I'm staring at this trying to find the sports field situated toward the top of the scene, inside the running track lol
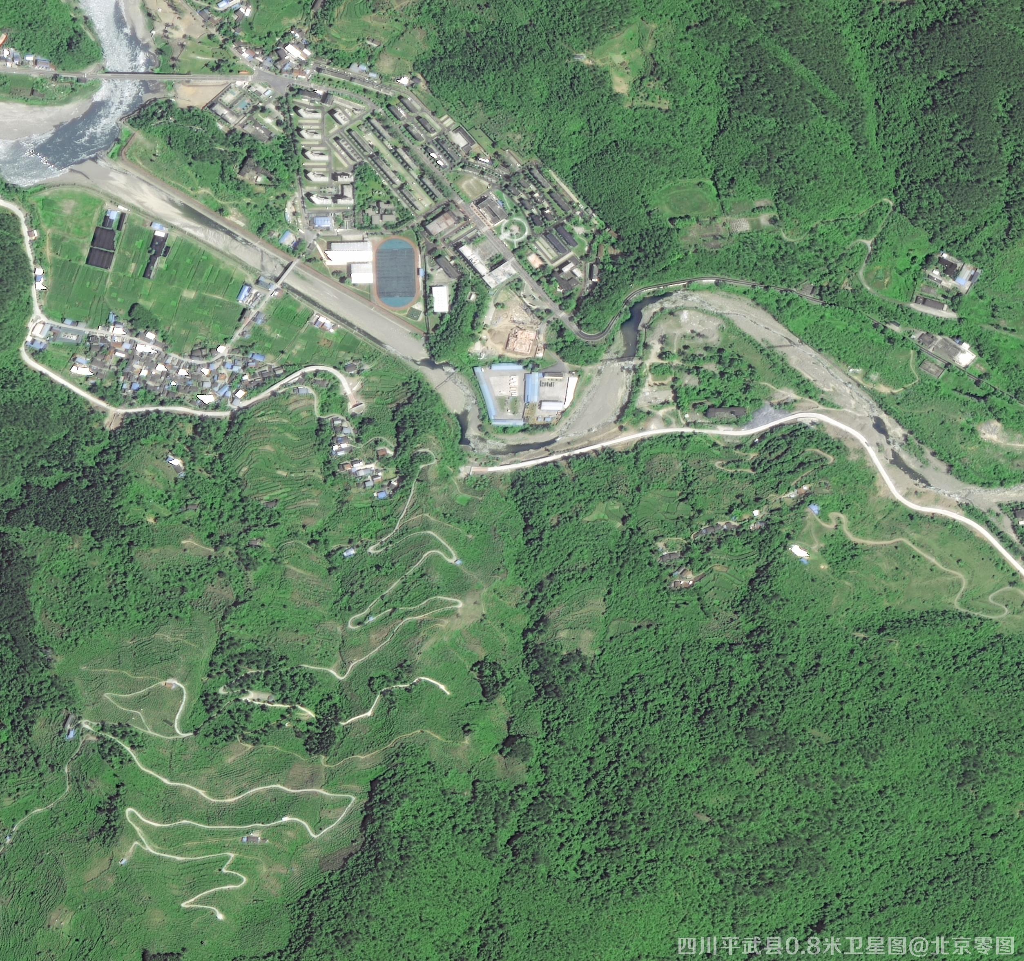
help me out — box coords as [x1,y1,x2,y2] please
[376,248,415,296]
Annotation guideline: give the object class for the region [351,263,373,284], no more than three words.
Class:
building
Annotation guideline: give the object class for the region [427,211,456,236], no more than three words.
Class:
building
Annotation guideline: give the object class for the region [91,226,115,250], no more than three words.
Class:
house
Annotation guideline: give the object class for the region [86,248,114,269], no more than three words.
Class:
house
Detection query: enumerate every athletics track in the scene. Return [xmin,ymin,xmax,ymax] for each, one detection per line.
[372,235,420,309]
